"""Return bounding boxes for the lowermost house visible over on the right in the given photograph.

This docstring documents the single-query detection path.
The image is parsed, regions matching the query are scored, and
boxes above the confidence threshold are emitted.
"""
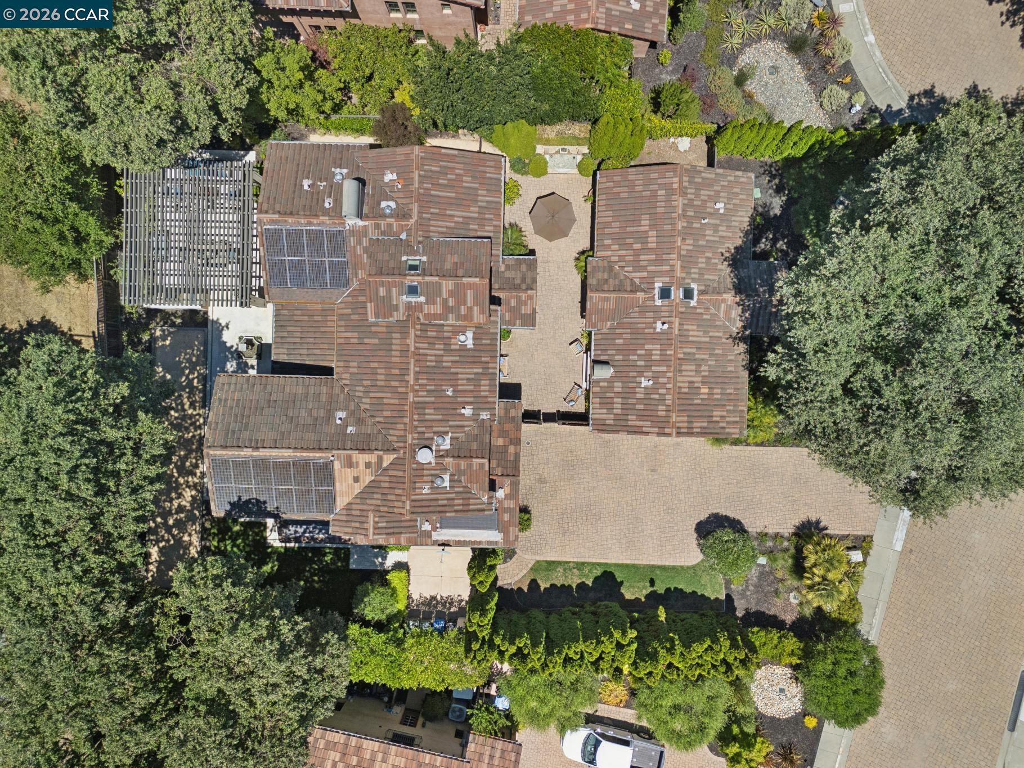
[582,161,787,440]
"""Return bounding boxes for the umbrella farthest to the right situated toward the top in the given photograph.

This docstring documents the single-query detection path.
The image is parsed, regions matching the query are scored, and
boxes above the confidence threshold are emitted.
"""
[529,192,576,242]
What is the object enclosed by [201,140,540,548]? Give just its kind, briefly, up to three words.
house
